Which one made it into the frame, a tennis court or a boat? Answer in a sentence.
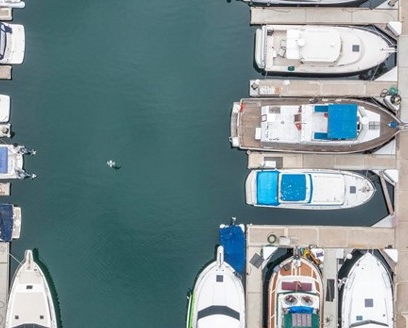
The one in the frame is a boat.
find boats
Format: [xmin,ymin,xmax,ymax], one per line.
[231,97,408,163]
[243,163,378,215]
[218,217,247,273]
[0,202,22,239]
[187,246,247,328]
[0,139,37,180]
[0,22,26,64]
[334,252,399,328]
[6,250,57,328]
[264,245,328,328]
[254,24,398,79]
[0,0,23,8]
